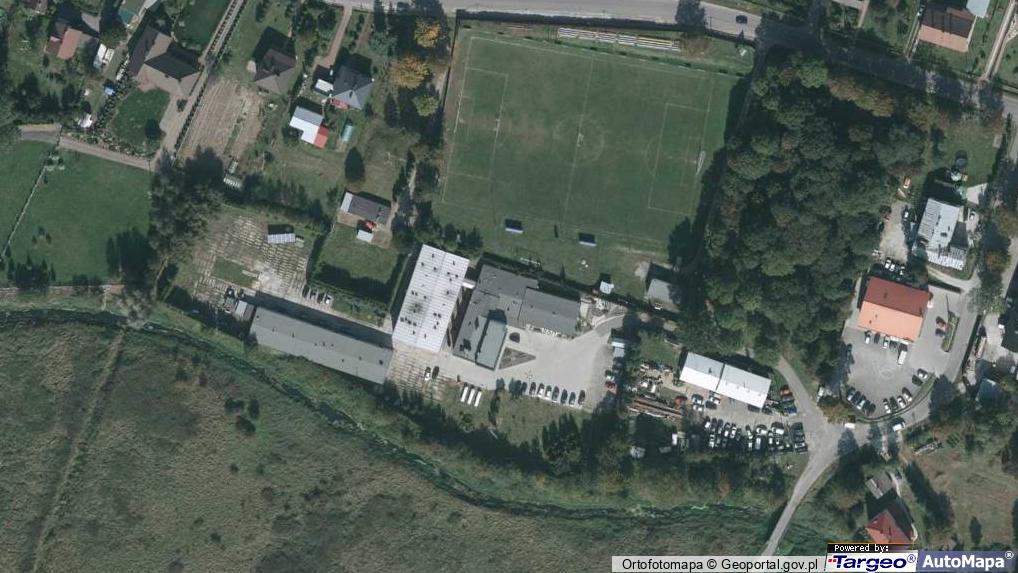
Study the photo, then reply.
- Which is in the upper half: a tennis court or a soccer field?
soccer field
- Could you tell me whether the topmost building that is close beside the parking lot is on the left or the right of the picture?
right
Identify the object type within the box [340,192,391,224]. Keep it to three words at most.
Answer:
house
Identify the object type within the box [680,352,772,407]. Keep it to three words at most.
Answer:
building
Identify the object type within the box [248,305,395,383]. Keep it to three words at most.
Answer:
building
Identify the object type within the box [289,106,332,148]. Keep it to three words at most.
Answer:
barn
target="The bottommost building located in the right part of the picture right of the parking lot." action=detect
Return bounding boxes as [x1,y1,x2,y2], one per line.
[975,379,999,410]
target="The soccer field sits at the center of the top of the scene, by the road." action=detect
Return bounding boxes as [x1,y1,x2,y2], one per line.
[431,16,752,272]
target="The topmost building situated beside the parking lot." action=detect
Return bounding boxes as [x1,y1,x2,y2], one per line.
[917,198,968,268]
